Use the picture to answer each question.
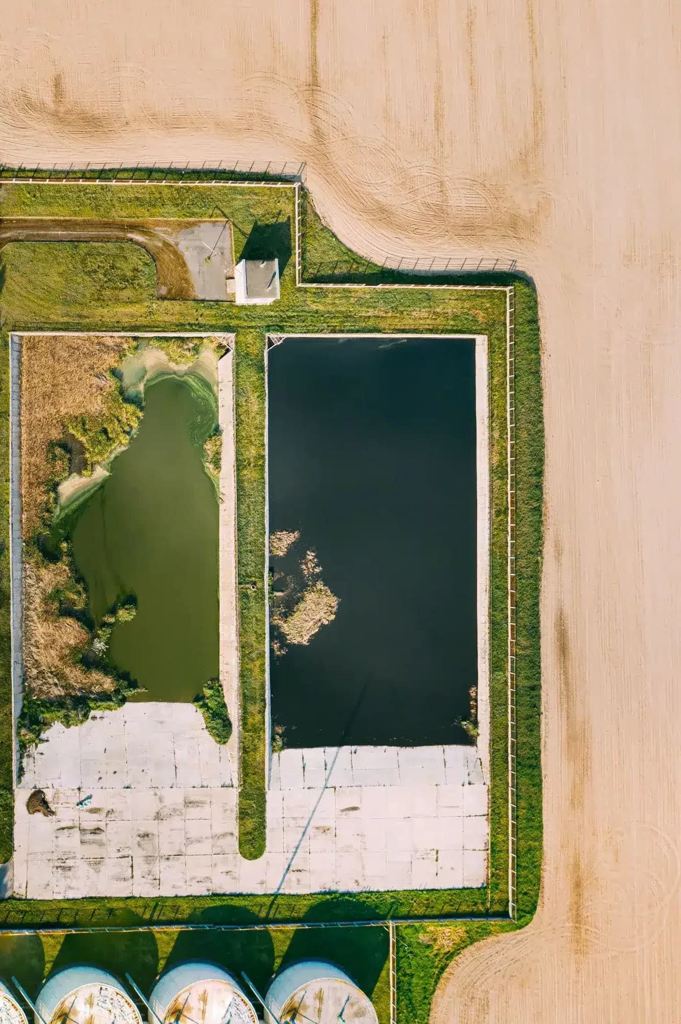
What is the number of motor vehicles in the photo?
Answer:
0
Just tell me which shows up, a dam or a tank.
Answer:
tank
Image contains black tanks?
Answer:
No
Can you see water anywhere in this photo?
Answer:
Yes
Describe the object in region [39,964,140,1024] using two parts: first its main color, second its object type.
white storage tank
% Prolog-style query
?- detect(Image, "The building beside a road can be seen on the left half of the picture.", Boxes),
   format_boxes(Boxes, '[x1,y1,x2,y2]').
[235,258,280,305]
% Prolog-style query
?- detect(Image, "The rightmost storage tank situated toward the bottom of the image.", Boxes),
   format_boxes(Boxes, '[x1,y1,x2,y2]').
[266,960,376,1024]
